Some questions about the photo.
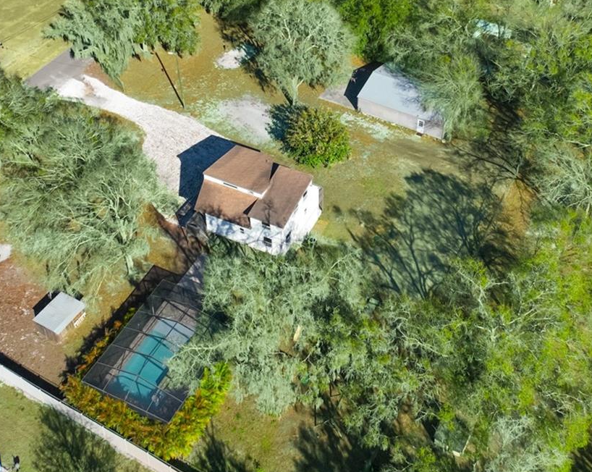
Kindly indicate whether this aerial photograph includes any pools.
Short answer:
Yes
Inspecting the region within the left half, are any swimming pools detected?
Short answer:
Yes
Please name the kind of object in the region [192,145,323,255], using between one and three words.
house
